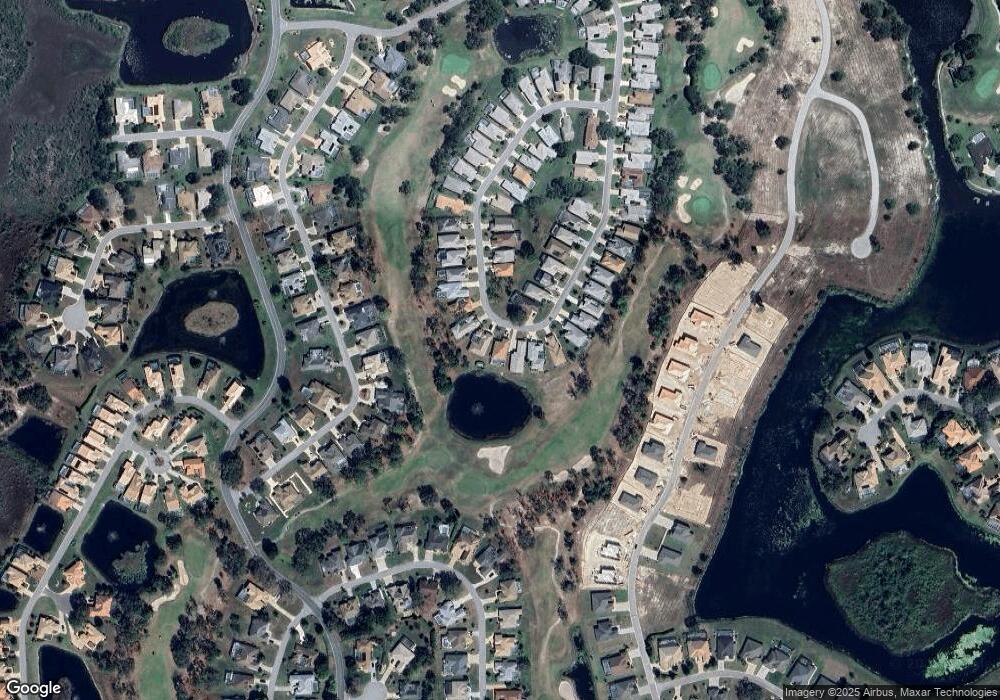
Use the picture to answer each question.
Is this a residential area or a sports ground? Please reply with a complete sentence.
The picture captures a residential area.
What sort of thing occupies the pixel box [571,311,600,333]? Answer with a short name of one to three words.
house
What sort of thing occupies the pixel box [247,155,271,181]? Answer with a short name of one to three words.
house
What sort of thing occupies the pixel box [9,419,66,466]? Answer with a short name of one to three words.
pond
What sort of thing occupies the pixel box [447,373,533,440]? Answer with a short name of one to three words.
pond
